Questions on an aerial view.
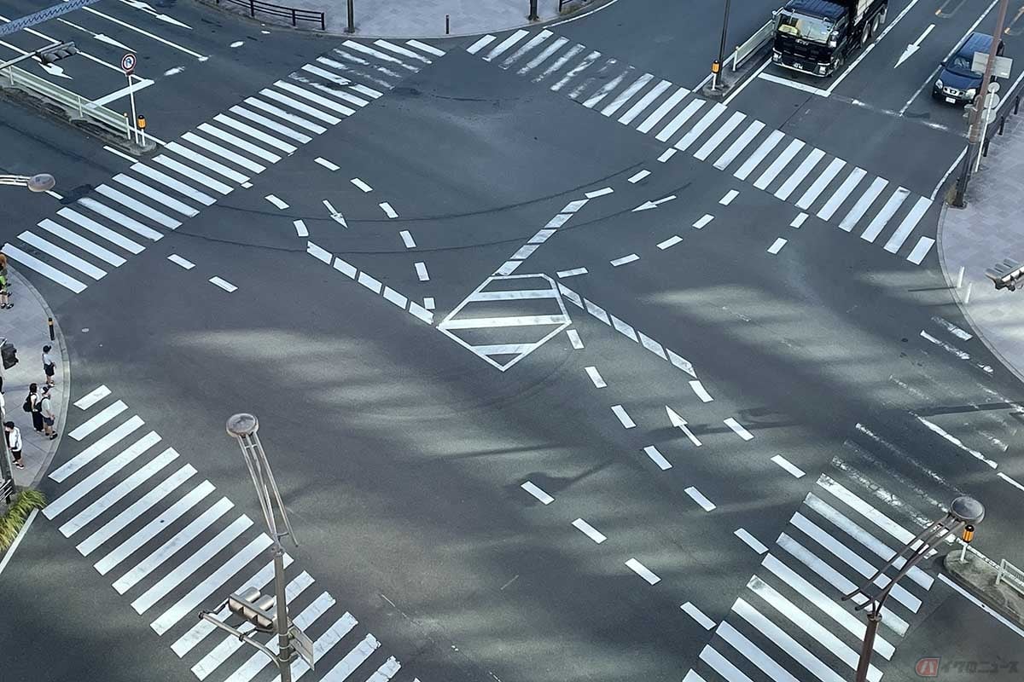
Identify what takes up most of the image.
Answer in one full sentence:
Most of the picture is covered by paved ground.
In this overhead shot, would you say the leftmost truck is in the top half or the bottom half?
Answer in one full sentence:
It is in the top half that the leftmost truck appears.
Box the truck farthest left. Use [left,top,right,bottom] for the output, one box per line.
[766,0,888,75]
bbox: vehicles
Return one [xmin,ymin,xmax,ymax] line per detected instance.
[766,0,888,75]
[932,33,1006,109]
